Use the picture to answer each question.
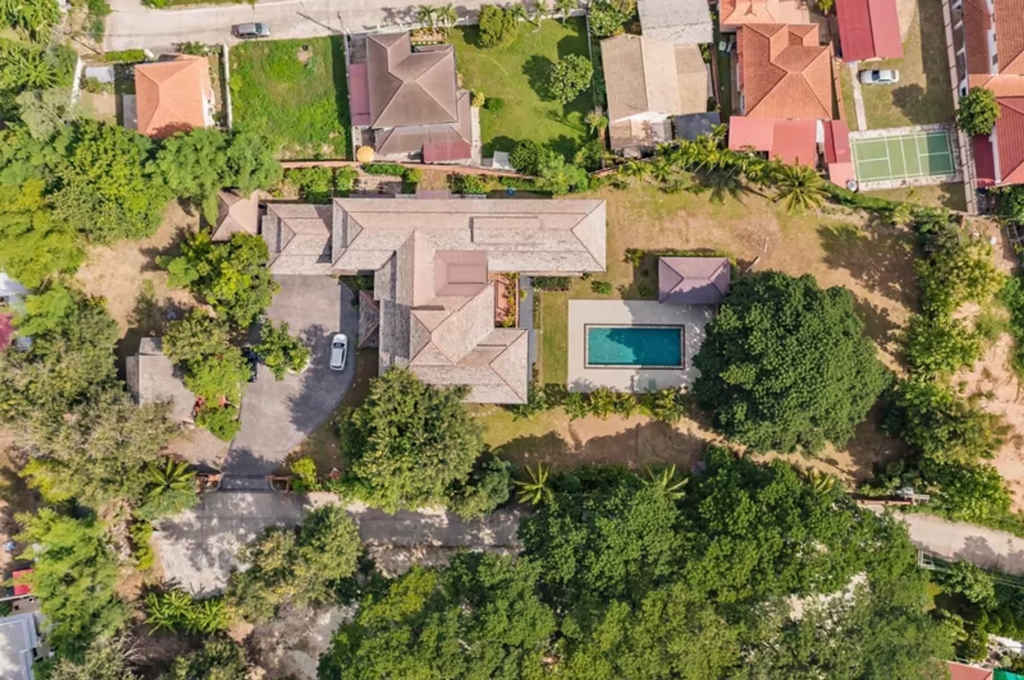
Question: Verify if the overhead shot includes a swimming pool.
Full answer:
Yes, there's a swimming pool here.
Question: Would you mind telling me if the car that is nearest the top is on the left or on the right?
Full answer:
The car that is nearest the top appears in the left half of the scene.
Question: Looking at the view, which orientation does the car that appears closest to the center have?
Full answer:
The car that appears closest to the center is laid out up and down.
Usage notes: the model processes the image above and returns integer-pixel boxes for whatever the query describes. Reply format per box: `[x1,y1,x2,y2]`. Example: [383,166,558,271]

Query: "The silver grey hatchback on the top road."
[232,19,270,39]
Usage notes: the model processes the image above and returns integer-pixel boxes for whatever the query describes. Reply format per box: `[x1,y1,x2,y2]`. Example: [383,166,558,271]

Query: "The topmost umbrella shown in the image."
[357,145,375,163]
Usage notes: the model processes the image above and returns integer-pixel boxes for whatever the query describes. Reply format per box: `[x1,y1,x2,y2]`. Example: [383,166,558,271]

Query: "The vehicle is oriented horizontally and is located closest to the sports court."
[859,67,899,86]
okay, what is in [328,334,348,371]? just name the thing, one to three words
car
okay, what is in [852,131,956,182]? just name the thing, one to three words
sports court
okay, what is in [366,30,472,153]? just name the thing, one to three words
house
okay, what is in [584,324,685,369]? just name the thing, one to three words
swimming pool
